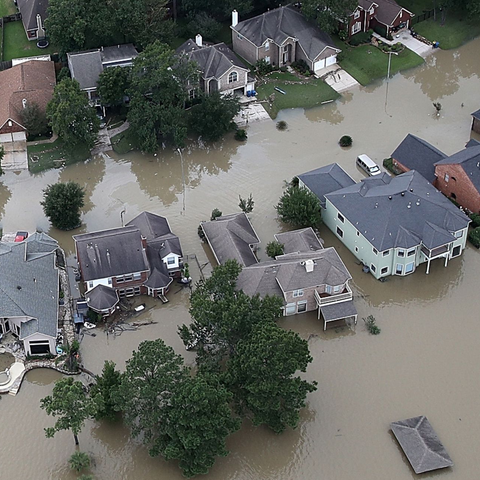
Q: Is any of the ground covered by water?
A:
Yes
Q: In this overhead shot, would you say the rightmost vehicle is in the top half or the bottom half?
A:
top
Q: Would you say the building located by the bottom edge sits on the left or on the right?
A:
right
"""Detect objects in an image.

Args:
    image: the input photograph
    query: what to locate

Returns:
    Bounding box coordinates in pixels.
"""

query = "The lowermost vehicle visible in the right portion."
[353,148,381,172]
